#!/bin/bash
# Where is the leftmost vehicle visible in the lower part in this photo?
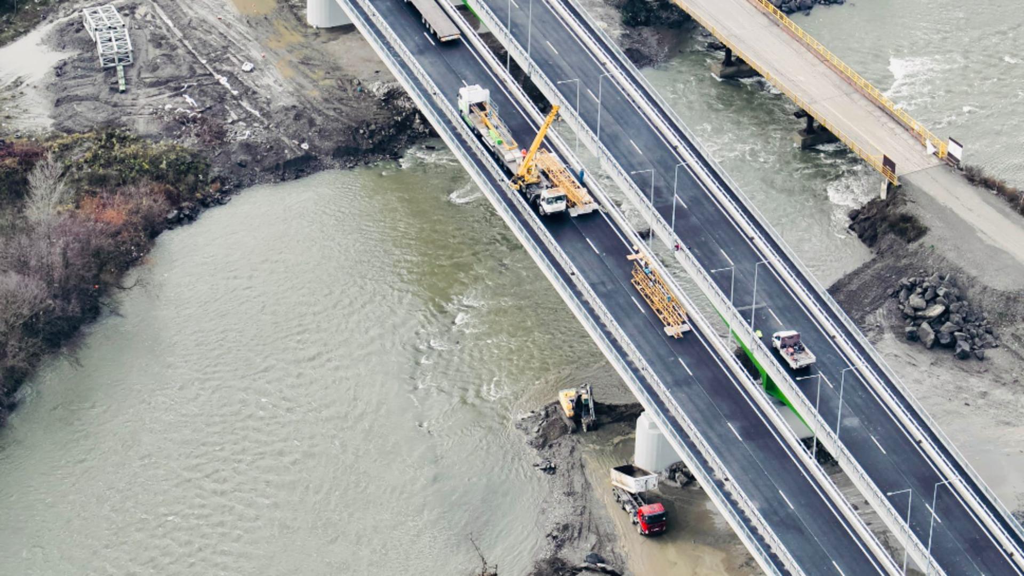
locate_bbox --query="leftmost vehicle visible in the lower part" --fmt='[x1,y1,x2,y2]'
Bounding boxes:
[556,391,599,437]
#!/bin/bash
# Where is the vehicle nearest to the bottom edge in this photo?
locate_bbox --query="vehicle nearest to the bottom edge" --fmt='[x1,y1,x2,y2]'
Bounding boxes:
[613,466,669,535]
